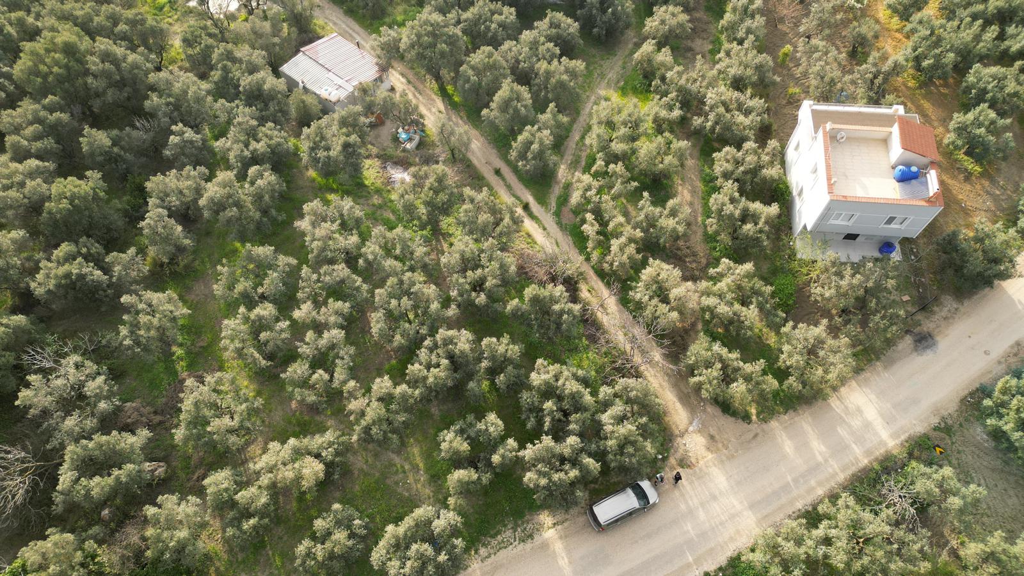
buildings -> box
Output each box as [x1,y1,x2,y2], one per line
[781,100,944,270]
[283,25,387,121]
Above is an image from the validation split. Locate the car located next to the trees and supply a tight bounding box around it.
[586,484,660,533]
